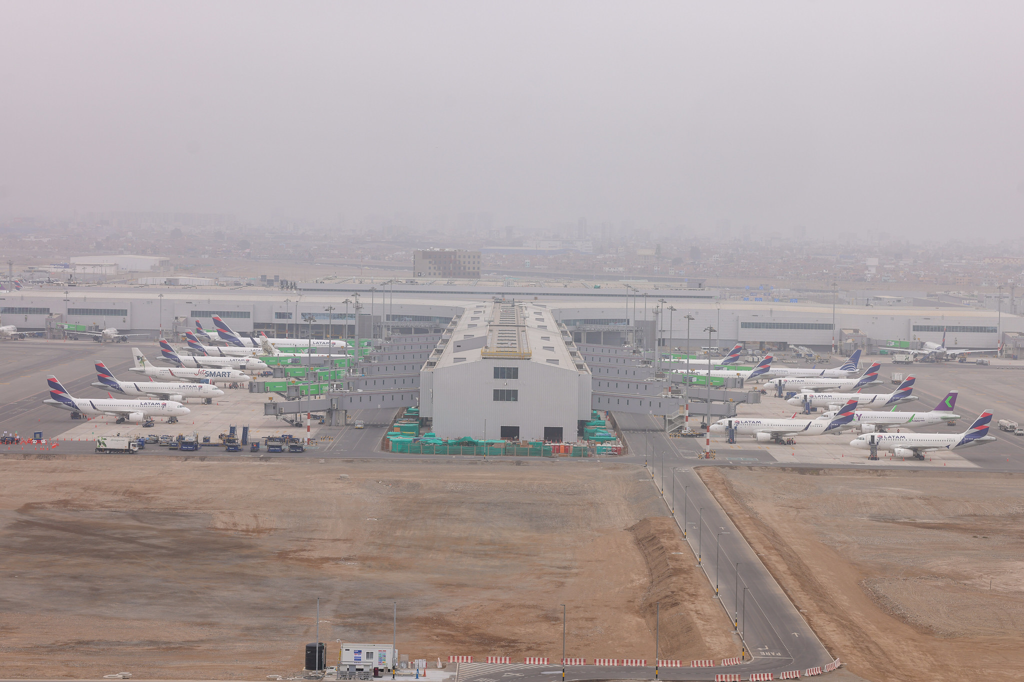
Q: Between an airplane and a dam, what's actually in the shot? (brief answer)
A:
airplane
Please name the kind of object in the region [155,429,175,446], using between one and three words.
work vehicle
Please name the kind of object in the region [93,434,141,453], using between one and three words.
vehicle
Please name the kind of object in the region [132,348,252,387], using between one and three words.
airplane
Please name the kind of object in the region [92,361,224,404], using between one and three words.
airplane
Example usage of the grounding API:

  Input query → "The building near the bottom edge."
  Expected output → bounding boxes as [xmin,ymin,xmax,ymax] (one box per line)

[337,640,399,673]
